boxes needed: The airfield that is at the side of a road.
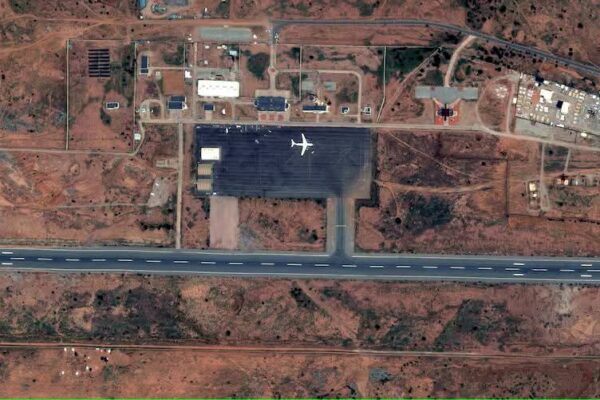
[0,126,600,284]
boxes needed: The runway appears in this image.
[0,245,600,284]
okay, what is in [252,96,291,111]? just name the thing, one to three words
building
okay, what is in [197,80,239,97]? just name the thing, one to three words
building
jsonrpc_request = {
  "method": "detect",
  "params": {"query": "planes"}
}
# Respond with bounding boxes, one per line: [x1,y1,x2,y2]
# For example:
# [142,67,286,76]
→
[291,134,313,155]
